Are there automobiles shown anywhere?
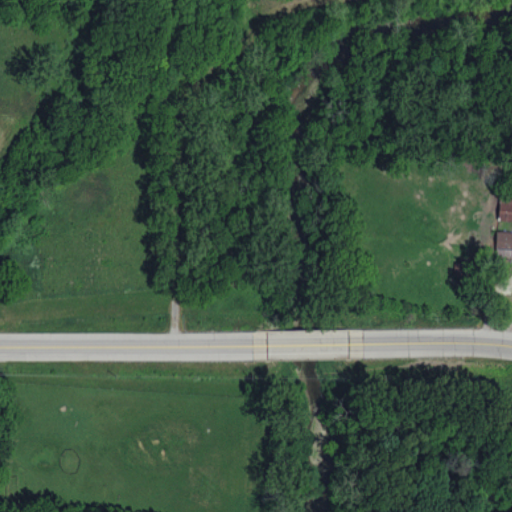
No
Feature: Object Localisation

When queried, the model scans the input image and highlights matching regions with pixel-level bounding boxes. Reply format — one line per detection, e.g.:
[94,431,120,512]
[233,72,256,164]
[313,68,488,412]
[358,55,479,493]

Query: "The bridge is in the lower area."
[254,330,364,360]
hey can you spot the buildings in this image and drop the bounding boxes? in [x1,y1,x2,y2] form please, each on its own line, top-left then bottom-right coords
[500,201,512,221]
[497,232,512,260]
